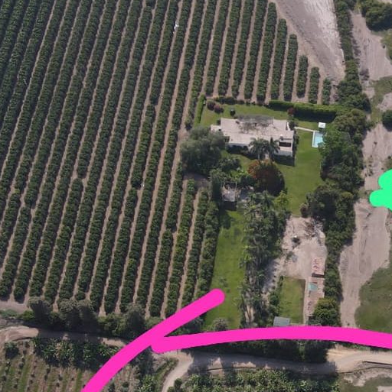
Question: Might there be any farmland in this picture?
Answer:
Yes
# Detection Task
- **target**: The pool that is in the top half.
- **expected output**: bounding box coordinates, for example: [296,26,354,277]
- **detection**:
[312,131,325,147]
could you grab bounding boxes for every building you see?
[223,191,237,204]
[311,258,325,276]
[212,118,293,158]
[274,317,290,329]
